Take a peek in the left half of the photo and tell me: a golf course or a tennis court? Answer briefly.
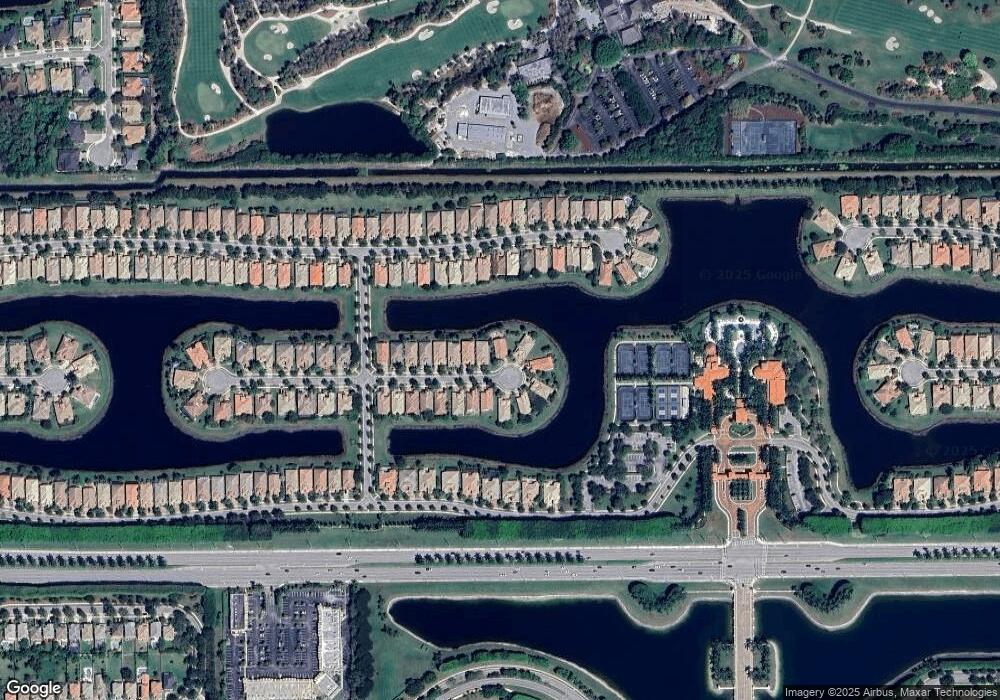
golf course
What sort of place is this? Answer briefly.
residential area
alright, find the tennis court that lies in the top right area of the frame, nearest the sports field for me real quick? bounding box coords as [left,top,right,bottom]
[783,120,797,154]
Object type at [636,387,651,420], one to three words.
tennis court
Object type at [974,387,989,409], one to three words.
house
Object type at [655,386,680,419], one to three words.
sports court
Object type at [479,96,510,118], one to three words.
shed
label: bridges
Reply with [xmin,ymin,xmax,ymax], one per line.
[717,581,769,700]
